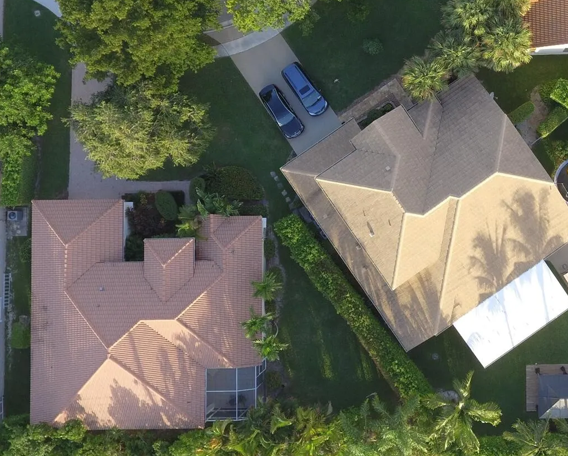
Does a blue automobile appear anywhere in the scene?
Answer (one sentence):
Yes, you can see a blue automobile in this photo.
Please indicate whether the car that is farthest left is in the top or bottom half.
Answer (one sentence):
The car that is farthest left is in the top half of the image.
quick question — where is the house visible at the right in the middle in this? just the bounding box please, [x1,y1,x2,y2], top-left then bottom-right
[280,75,568,352]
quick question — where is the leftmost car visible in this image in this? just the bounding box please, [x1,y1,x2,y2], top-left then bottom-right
[260,82,303,141]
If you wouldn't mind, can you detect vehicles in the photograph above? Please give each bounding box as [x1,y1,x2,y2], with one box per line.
[260,82,303,141]
[280,58,329,119]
